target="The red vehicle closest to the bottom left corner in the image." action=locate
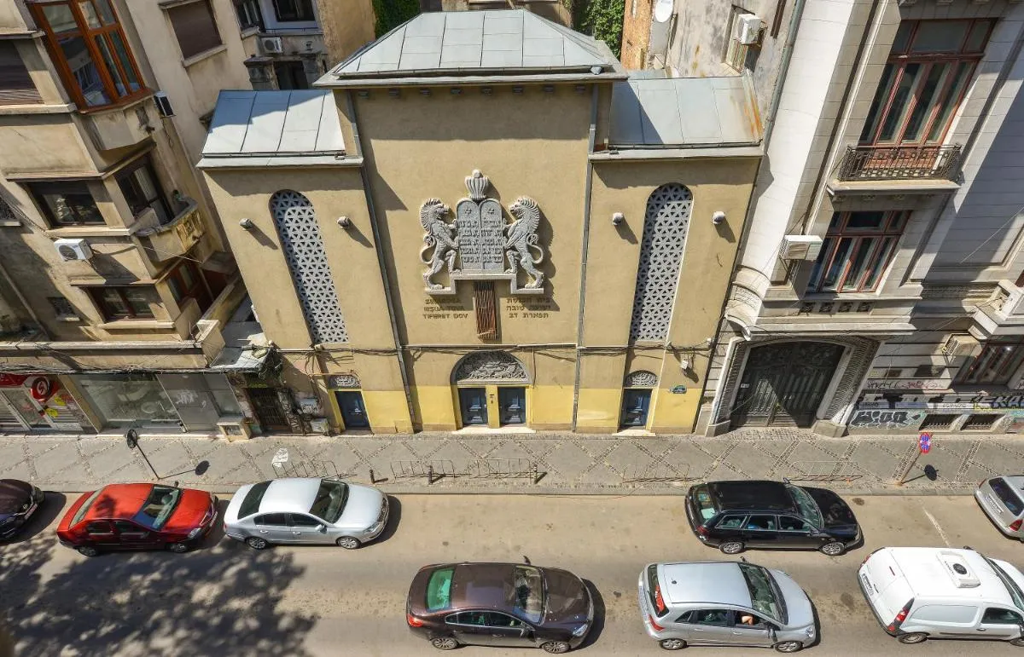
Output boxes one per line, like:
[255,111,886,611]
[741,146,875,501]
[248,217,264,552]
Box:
[58,478,223,558]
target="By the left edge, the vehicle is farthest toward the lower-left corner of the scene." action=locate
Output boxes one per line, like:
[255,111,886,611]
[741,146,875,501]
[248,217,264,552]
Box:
[0,476,49,548]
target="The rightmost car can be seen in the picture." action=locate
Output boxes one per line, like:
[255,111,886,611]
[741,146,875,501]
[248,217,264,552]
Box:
[982,479,1024,550]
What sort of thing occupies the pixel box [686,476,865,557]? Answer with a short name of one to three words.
car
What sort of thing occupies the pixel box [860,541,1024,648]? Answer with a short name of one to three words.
van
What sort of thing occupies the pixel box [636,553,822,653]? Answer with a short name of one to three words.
car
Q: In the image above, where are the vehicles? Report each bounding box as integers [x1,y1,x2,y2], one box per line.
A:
[686,476,865,557]
[860,541,1024,648]
[405,552,595,653]
[982,479,1024,550]
[219,474,390,553]
[636,553,822,653]
[0,476,49,548]
[58,478,223,558]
